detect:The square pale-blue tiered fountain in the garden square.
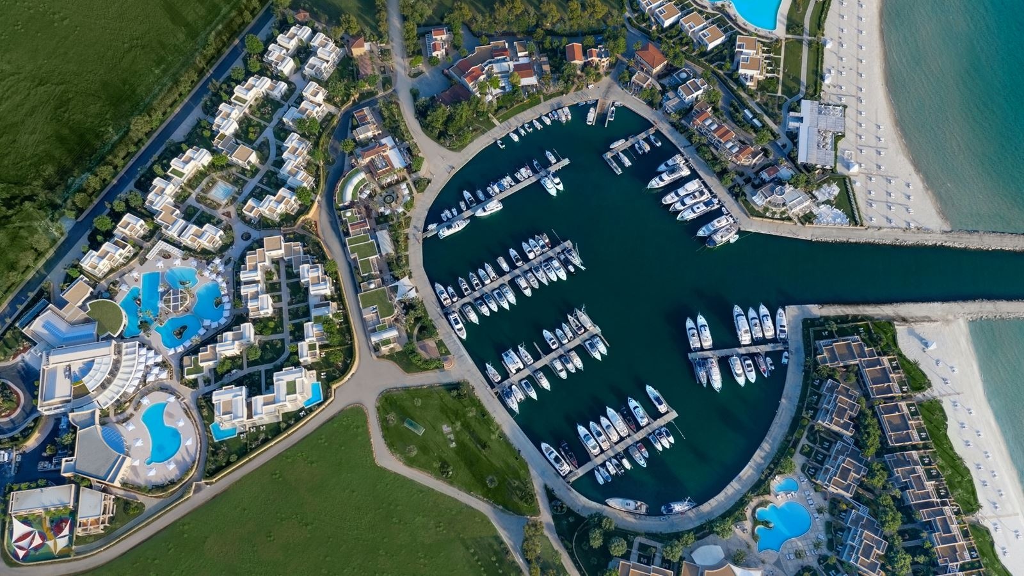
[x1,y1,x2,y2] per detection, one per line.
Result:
[208,179,237,203]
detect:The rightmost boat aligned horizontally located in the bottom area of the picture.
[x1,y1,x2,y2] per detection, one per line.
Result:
[661,499,697,515]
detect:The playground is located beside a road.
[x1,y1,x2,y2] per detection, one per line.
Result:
[9,511,75,561]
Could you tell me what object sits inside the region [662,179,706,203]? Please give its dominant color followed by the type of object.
white boat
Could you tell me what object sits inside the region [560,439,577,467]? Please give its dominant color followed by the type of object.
black boat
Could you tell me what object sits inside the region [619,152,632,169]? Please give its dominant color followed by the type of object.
white boat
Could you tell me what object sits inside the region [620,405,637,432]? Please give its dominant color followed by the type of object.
black boat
